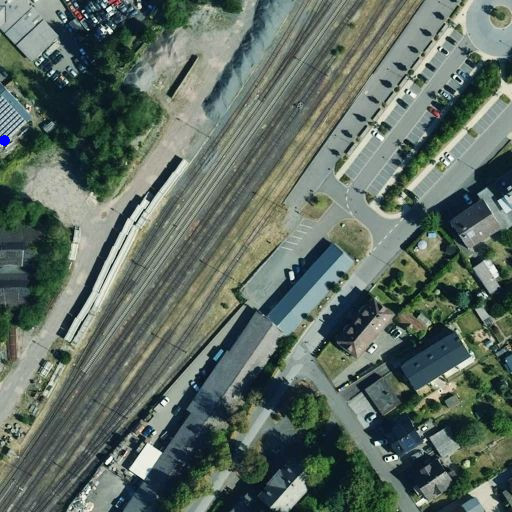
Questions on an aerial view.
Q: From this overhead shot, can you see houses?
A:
Yes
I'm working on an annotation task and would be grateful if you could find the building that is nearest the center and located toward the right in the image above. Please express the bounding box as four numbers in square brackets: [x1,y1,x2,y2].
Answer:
[267,244,353,336]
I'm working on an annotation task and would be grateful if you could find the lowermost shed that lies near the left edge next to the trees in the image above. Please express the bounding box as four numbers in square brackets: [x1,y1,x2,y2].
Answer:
[0,273,29,306]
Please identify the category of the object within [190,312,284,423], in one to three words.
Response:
building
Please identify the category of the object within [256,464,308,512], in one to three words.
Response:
house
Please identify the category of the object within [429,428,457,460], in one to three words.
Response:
shed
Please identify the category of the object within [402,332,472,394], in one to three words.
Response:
house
